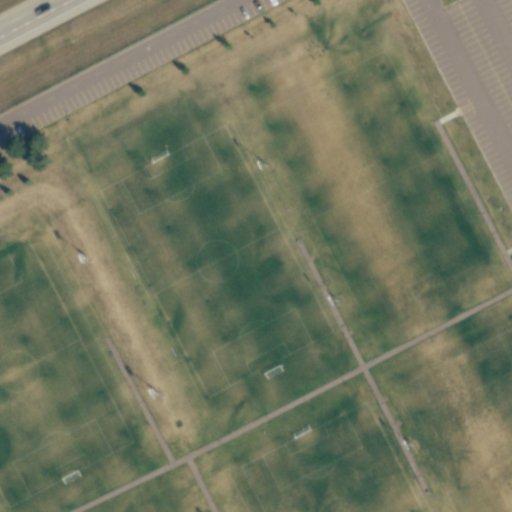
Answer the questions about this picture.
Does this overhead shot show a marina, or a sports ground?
sports ground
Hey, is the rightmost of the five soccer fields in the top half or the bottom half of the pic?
bottom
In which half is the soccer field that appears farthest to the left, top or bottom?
bottom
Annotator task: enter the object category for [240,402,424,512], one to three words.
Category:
soccer field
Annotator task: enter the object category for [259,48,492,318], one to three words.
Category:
soccer field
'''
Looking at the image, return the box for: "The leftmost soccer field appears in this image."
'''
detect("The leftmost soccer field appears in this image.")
[0,236,134,506]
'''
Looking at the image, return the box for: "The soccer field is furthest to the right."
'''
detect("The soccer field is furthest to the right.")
[400,329,512,512]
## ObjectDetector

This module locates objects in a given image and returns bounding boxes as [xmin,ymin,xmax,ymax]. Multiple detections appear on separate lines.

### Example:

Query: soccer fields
[240,402,424,512]
[259,48,492,318]
[400,329,512,512]
[0,236,134,506]
[101,127,334,397]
